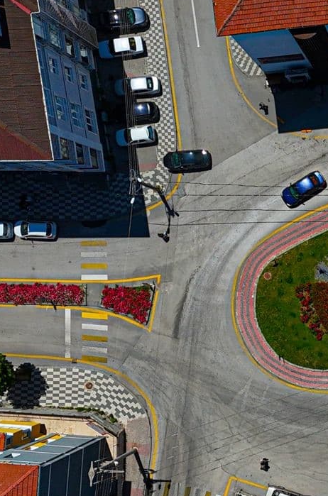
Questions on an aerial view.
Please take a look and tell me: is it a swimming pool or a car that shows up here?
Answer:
car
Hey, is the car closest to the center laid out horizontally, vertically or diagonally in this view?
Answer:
horizontally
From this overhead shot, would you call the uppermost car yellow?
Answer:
No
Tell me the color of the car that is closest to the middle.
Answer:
black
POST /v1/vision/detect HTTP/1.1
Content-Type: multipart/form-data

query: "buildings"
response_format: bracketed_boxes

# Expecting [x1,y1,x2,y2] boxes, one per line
[0,416,106,496]
[214,0,328,70]
[0,0,105,169]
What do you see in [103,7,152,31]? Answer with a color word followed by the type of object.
black car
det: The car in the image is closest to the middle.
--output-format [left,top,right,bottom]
[164,149,213,172]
